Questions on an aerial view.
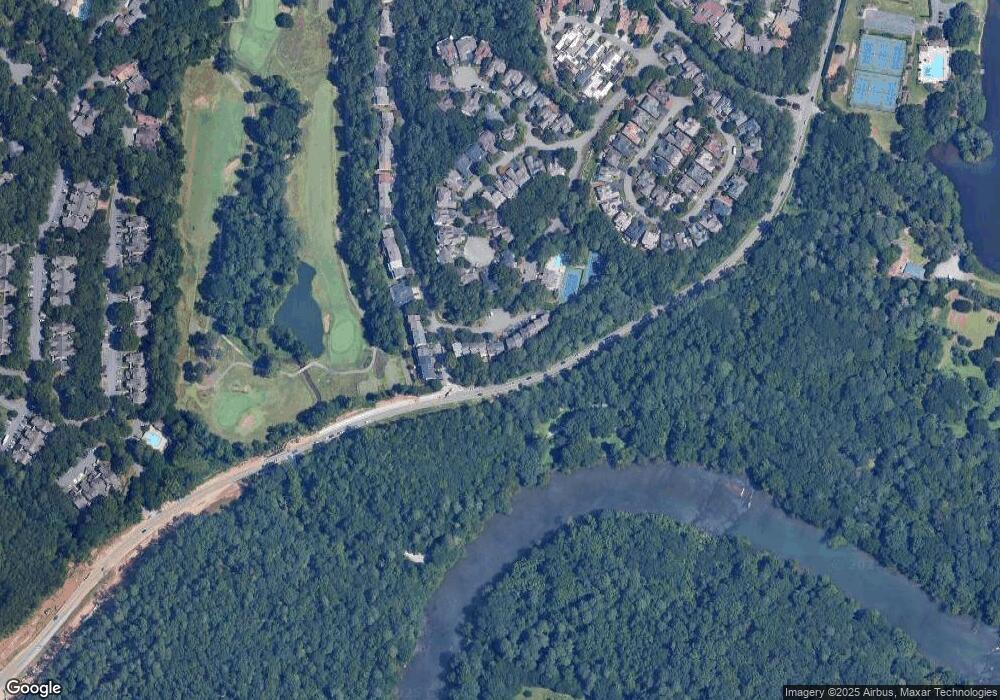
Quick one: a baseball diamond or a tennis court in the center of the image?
tennis court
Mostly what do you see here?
trees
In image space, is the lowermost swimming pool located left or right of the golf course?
to the left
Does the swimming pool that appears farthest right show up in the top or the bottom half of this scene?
top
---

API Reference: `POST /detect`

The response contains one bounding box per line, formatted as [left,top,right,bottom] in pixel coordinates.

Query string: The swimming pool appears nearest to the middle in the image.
[544,254,567,290]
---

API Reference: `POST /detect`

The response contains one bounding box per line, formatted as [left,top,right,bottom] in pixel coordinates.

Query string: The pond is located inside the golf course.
[272,262,324,357]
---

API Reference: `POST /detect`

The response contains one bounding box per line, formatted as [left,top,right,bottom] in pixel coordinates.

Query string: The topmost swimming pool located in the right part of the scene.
[919,46,949,83]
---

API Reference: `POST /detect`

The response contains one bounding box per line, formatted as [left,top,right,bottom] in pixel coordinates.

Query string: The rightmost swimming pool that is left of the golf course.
[142,425,166,452]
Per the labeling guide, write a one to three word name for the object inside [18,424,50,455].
house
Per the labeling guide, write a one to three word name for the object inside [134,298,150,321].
house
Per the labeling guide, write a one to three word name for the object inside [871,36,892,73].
tennis court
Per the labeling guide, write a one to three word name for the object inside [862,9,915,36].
sports court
